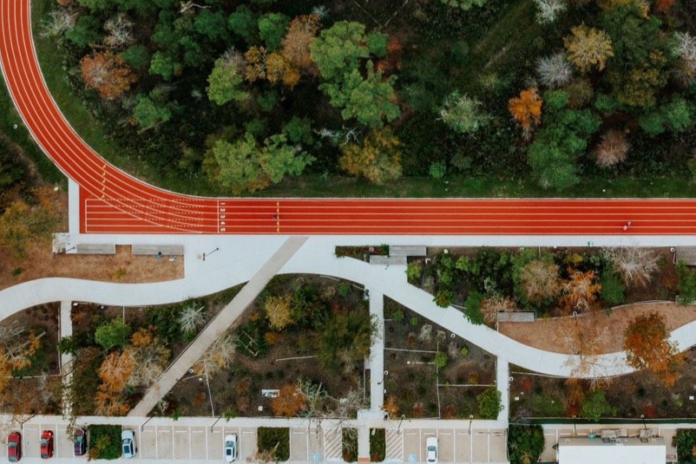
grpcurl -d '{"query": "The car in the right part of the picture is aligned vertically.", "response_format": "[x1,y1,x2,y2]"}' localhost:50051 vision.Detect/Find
[426,436,439,464]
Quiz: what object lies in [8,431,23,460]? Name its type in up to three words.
car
